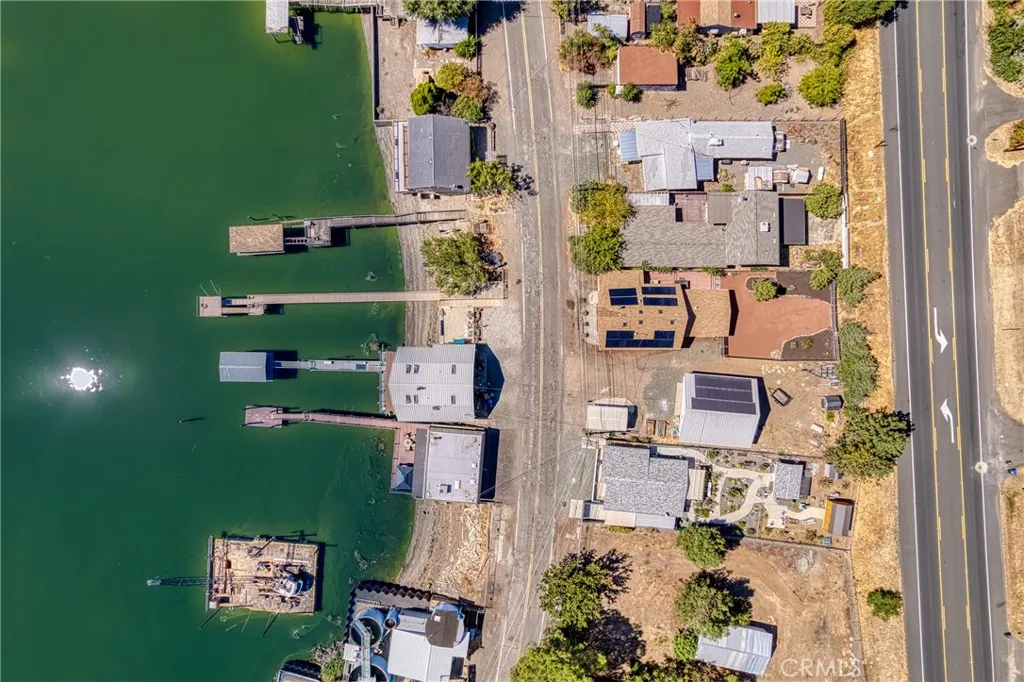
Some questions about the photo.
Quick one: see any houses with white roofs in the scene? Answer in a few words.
Yes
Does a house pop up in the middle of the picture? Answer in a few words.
Yes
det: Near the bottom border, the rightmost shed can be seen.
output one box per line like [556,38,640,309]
[694,621,772,675]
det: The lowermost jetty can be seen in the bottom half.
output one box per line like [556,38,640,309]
[245,405,401,430]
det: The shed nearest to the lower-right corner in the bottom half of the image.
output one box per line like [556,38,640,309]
[823,498,855,536]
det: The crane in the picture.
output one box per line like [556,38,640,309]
[144,553,314,599]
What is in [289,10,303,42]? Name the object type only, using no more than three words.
boat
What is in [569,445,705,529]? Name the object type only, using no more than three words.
house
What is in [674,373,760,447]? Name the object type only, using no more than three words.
barn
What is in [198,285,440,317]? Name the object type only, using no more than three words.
pier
